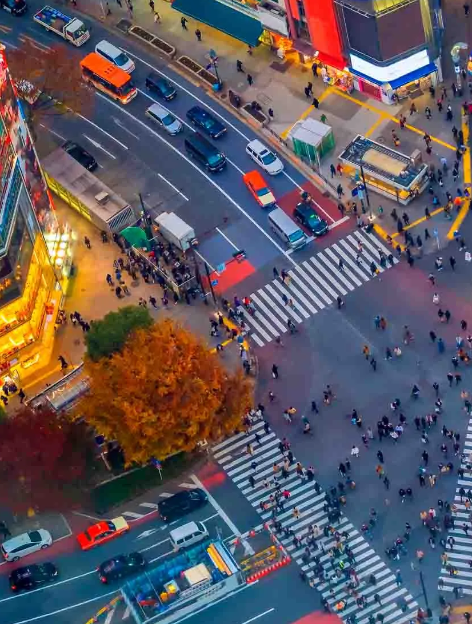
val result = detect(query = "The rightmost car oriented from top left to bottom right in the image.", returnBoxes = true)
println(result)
[293,200,330,237]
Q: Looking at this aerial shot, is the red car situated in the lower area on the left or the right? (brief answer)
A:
left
